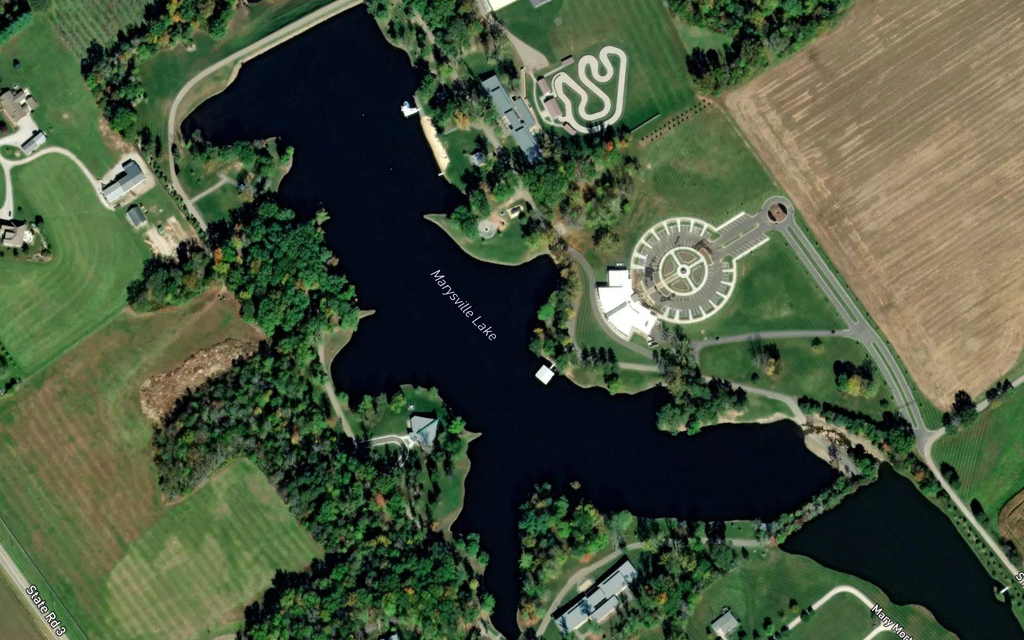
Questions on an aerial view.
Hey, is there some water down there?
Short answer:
Yes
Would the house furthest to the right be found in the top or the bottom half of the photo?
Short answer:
bottom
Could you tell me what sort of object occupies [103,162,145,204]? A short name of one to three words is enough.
barn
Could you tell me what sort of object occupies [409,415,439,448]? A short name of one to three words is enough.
building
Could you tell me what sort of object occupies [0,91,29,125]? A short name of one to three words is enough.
house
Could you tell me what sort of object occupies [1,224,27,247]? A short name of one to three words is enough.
house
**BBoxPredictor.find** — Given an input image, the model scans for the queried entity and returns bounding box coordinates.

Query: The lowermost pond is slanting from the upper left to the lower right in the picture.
[779,461,1024,640]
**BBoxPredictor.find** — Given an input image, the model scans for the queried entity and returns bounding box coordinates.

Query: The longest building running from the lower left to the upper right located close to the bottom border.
[556,561,638,632]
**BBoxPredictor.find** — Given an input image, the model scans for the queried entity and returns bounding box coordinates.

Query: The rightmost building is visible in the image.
[713,608,739,635]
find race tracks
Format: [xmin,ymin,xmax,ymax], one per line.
[554,45,628,135]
